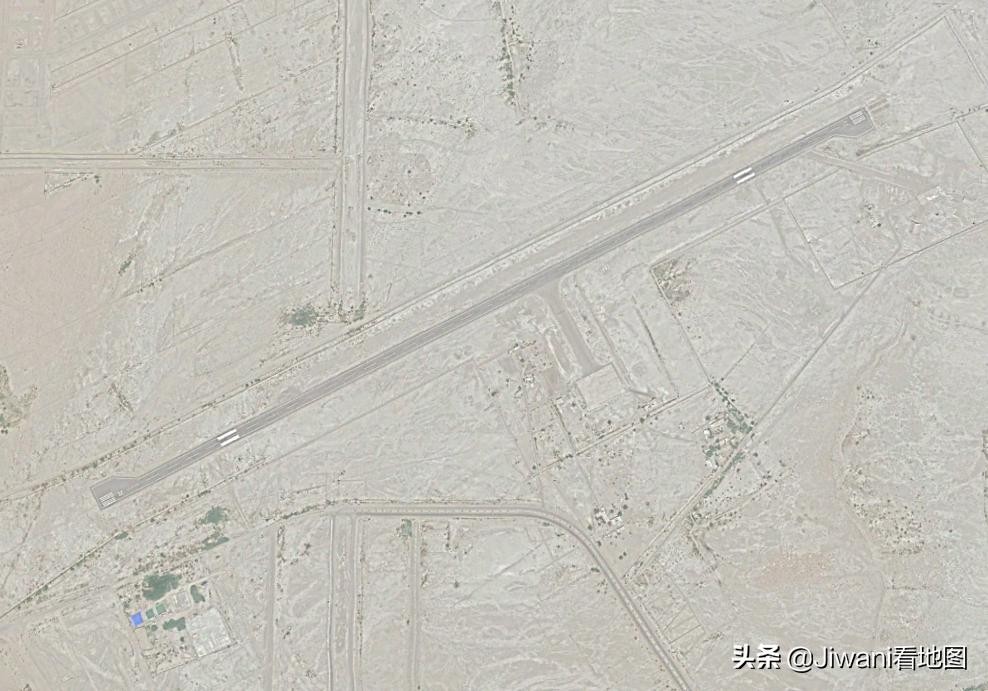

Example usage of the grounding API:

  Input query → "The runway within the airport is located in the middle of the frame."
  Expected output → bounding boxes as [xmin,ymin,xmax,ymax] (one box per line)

[90,108,874,510]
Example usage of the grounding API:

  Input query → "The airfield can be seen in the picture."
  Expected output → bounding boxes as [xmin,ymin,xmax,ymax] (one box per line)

[90,108,874,510]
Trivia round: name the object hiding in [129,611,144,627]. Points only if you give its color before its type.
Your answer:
blue swimming pool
